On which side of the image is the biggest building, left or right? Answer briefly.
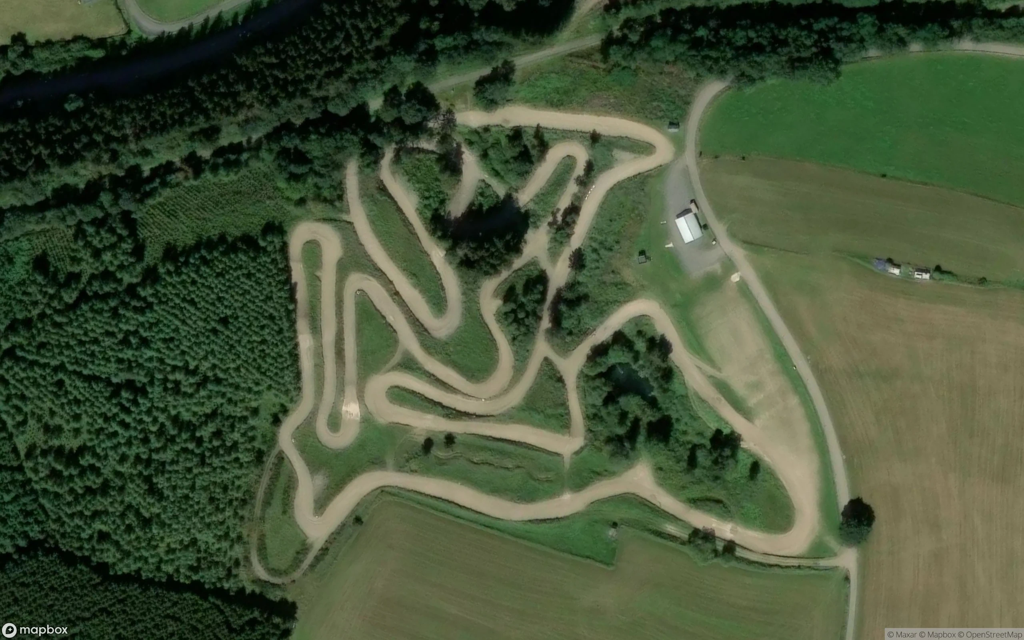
right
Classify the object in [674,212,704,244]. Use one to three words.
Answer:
building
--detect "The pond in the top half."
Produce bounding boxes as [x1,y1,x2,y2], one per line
[455,201,523,244]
